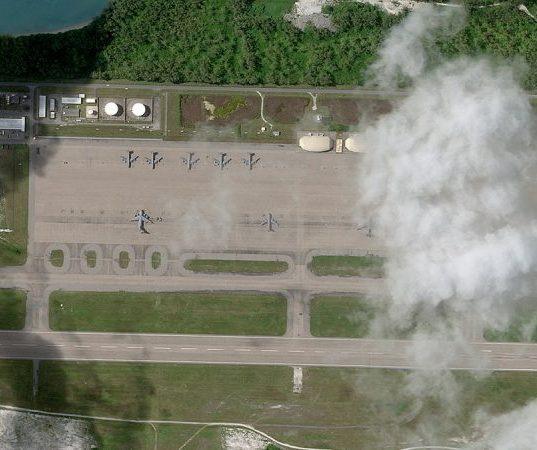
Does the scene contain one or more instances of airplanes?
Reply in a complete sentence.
Yes, an airplane appears in the view.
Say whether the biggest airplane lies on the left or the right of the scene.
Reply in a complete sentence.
It is on the left.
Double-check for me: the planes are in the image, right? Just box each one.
[181,152,199,170]
[121,150,138,168]
[128,209,153,234]
[242,153,260,171]
[261,213,278,231]
[213,153,231,170]
[145,151,162,169]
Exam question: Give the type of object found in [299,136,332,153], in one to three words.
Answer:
hangar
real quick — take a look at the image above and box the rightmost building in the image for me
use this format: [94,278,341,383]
[346,137,379,154]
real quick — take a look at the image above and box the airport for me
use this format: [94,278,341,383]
[0,137,537,397]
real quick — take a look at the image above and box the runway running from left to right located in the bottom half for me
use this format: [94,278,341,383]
[0,330,537,372]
